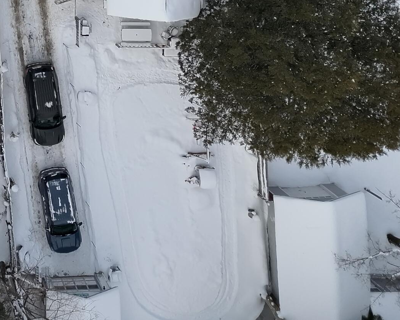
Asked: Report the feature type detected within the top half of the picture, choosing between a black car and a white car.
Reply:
black car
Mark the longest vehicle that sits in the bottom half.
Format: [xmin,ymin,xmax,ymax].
[37,165,83,252]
